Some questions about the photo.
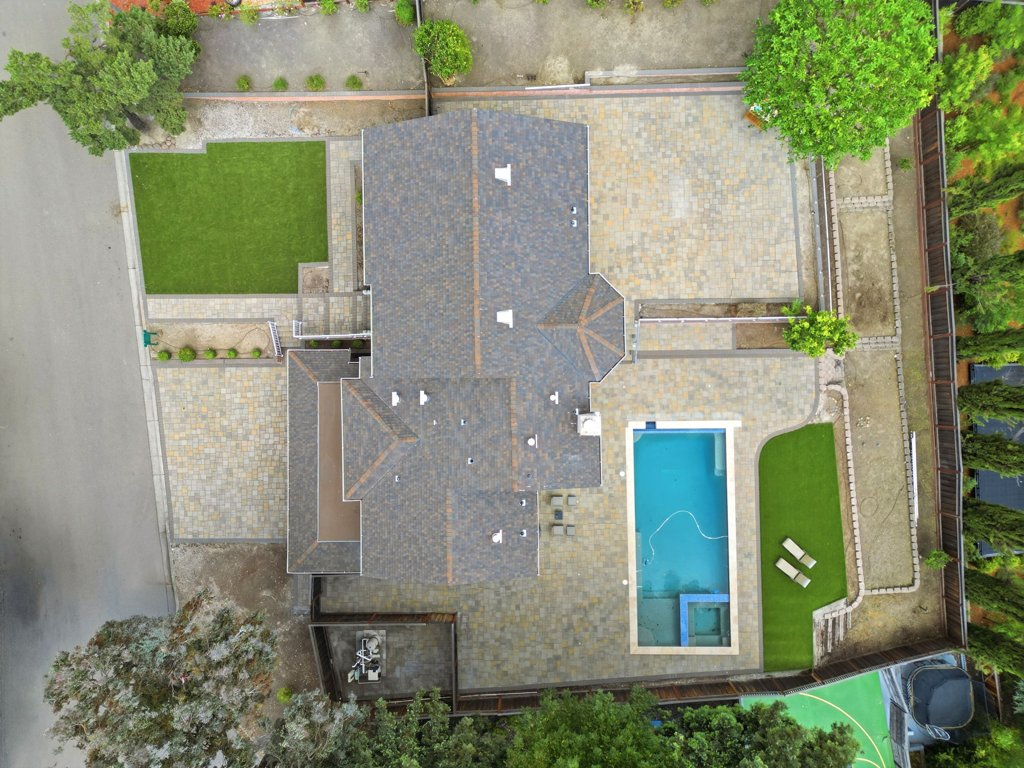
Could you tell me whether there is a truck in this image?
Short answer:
No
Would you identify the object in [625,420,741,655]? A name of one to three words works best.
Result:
swimming pool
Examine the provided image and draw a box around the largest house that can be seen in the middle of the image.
[284,110,629,585]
